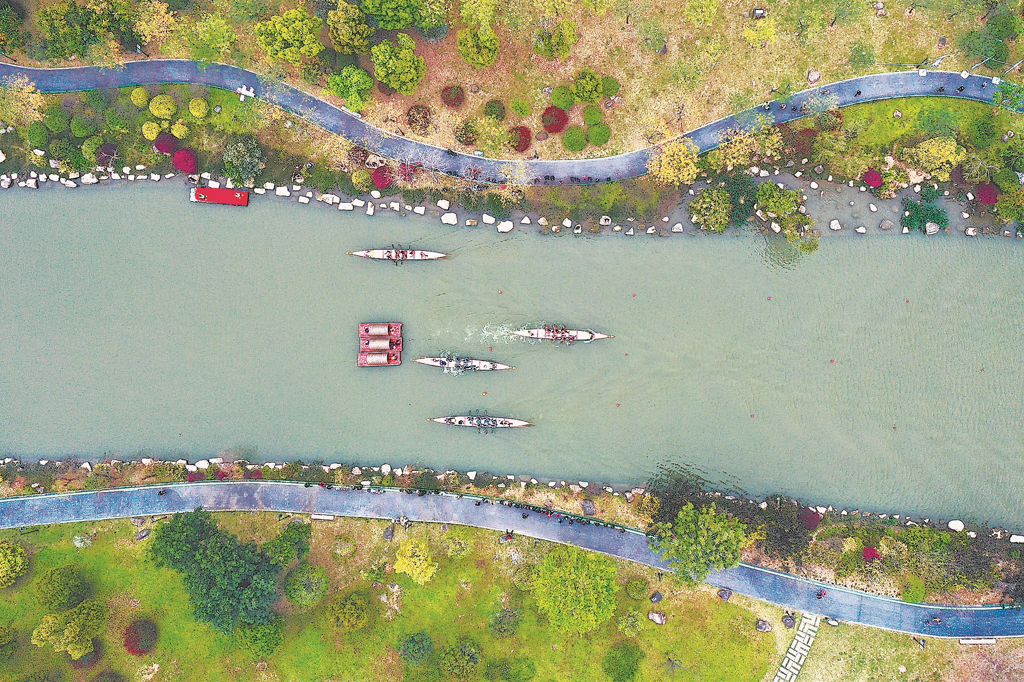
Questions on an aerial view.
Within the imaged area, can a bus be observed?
No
